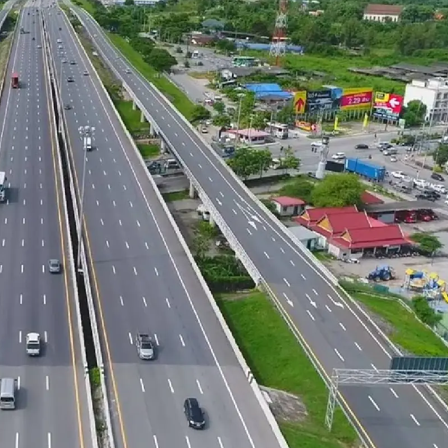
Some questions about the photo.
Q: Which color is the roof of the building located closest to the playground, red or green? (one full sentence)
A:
The roof of the building located closest to the playground looks red in the image.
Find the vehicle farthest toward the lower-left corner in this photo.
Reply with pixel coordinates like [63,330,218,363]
[0,377,18,406]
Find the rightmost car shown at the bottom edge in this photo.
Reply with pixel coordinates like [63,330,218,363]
[181,392,203,426]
